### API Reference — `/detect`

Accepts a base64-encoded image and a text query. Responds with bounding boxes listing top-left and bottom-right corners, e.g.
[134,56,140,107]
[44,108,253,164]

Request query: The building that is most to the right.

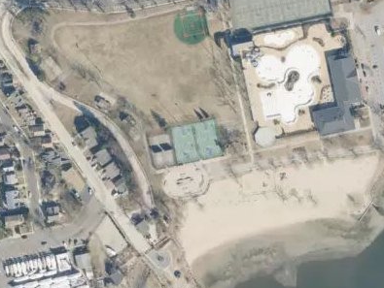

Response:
[310,48,365,138]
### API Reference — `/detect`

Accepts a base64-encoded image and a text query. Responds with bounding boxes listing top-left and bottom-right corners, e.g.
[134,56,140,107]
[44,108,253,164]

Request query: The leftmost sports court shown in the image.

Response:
[148,132,175,170]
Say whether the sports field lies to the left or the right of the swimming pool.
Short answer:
to the left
